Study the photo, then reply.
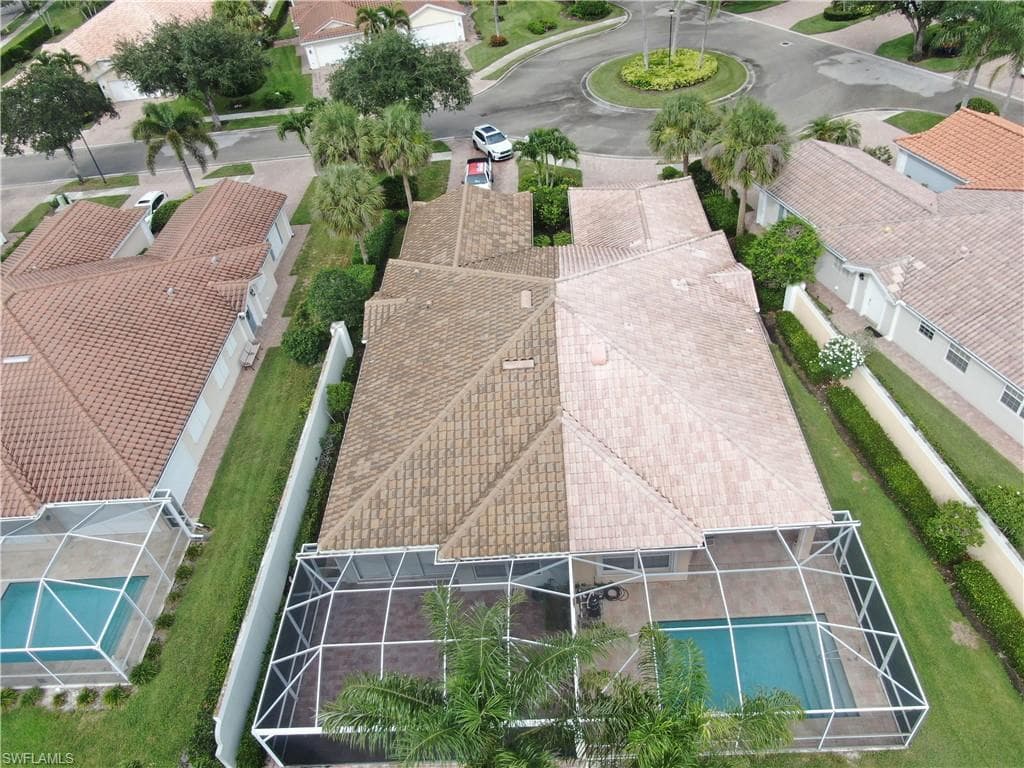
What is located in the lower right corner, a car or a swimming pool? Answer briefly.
swimming pool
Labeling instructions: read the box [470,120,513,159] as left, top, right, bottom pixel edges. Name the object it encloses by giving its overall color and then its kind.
white car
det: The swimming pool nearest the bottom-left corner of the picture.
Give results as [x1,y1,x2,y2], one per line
[0,570,157,669]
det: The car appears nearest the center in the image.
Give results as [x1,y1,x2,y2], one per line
[463,161,493,192]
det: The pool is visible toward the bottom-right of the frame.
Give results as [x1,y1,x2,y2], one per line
[650,604,864,723]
